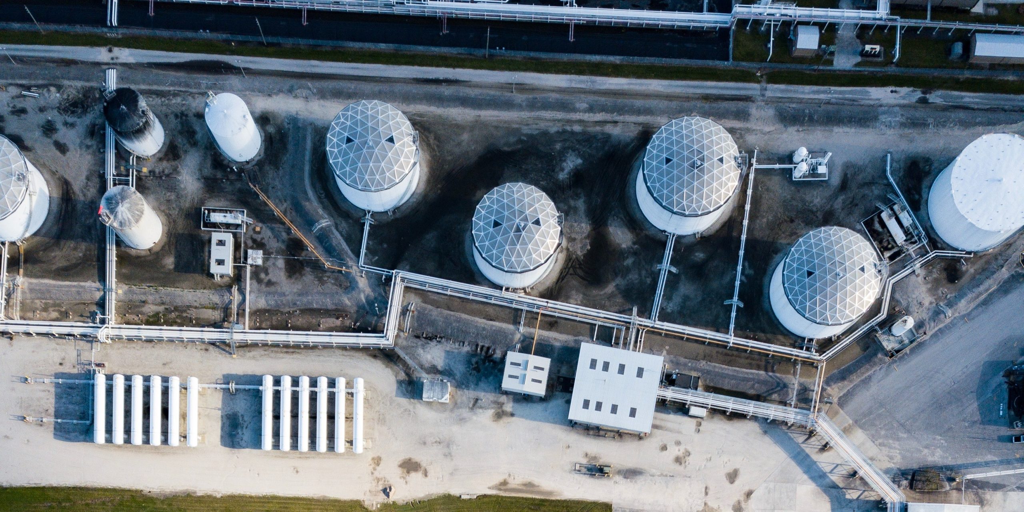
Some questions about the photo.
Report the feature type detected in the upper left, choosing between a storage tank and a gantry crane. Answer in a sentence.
There is a storage tank in the upper left.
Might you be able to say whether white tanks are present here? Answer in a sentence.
Yes, the picture does show a white tank.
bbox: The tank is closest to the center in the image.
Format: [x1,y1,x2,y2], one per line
[472,183,571,288]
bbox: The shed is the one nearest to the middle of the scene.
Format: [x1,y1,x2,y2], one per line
[501,351,551,399]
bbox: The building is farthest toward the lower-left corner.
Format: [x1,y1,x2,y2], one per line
[210,233,235,281]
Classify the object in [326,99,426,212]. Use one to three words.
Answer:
storage tank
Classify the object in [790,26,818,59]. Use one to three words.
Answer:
building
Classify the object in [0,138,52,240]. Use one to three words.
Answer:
storage tank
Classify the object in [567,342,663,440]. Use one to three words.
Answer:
shed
